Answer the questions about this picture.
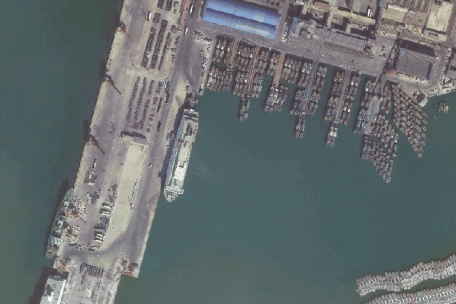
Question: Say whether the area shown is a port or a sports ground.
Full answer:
It's a port.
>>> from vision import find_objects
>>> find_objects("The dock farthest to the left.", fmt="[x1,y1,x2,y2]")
[54,0,216,304]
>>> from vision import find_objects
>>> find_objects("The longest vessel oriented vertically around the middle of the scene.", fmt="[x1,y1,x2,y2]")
[164,107,199,201]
